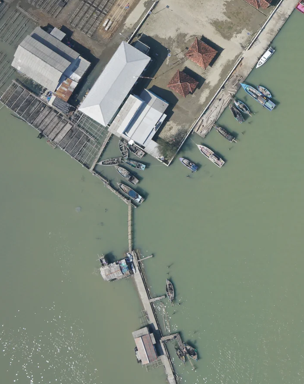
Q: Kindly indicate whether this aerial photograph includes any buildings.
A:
Yes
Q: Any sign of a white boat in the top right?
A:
Yes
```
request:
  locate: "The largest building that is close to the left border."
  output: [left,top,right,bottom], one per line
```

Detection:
[12,35,76,92]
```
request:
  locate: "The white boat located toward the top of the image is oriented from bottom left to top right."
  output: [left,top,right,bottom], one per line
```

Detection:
[255,46,276,68]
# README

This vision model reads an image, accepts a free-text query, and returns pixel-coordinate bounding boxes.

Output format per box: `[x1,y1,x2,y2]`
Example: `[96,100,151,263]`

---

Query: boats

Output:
[179,158,198,172]
[257,86,272,99]
[234,101,251,115]
[196,145,225,167]
[115,166,139,184]
[166,279,175,301]
[124,142,144,157]
[215,125,235,144]
[98,158,123,166]
[184,342,199,362]
[119,141,130,159]
[239,83,276,111]
[117,183,144,204]
[255,46,276,68]
[229,105,244,123]
[125,161,146,169]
